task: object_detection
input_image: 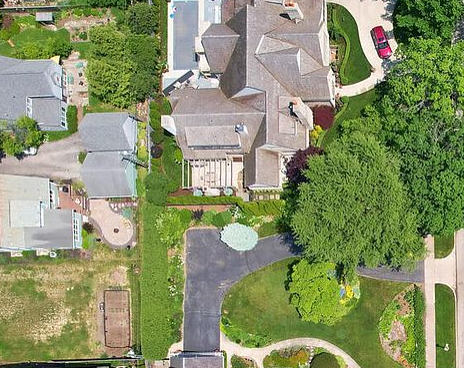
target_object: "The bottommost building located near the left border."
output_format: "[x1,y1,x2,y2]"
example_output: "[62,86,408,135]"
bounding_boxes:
[0,175,82,253]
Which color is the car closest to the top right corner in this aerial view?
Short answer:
red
